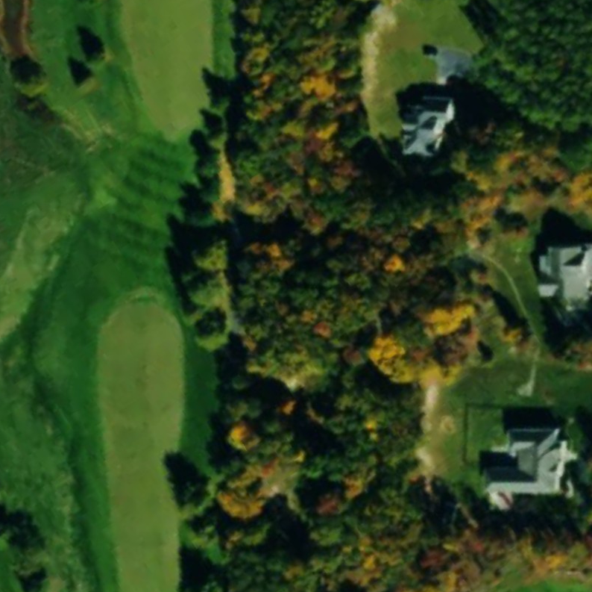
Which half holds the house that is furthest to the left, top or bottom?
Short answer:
top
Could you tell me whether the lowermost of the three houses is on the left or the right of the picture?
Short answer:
right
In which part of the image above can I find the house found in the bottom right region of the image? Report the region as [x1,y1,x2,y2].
[486,431,575,508]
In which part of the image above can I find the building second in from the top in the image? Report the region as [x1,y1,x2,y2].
[540,248,592,303]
